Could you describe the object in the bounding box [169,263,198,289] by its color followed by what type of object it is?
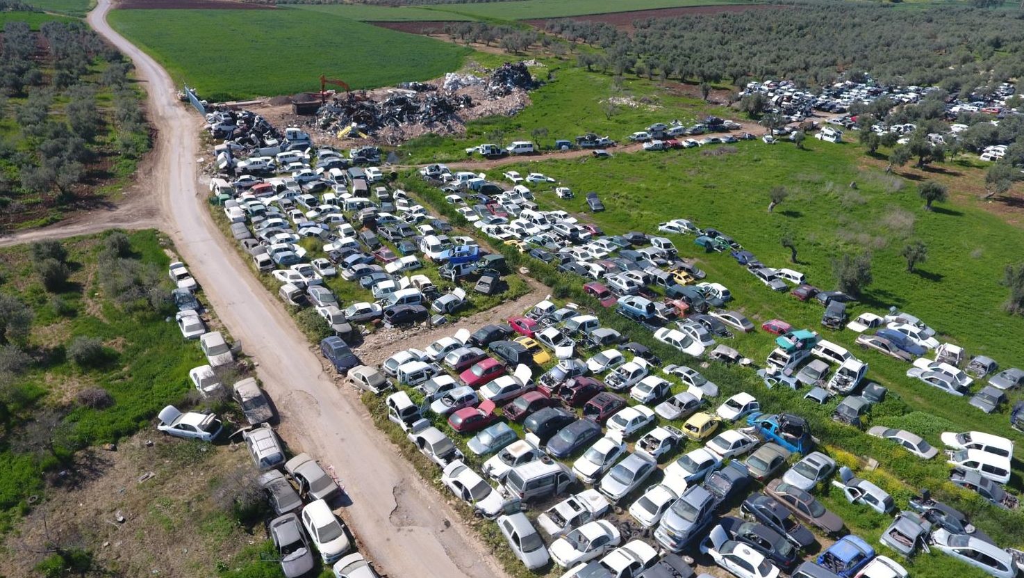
white car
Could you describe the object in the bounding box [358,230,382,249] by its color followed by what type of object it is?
gray car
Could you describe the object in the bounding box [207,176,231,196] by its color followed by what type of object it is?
white vehicle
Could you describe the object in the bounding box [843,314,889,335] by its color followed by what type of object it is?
white car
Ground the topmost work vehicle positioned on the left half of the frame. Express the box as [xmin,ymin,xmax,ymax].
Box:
[318,71,363,101]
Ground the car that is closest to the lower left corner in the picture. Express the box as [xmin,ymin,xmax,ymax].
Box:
[154,411,225,447]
